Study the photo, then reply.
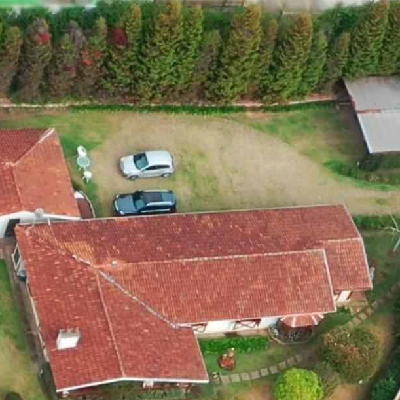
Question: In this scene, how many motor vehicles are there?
2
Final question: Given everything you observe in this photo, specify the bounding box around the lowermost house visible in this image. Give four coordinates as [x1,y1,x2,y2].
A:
[17,204,376,400]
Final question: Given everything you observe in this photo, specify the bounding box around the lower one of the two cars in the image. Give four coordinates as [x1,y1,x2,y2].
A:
[111,185,181,217]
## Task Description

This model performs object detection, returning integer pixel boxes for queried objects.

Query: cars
[116,149,179,184]
[111,185,181,217]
